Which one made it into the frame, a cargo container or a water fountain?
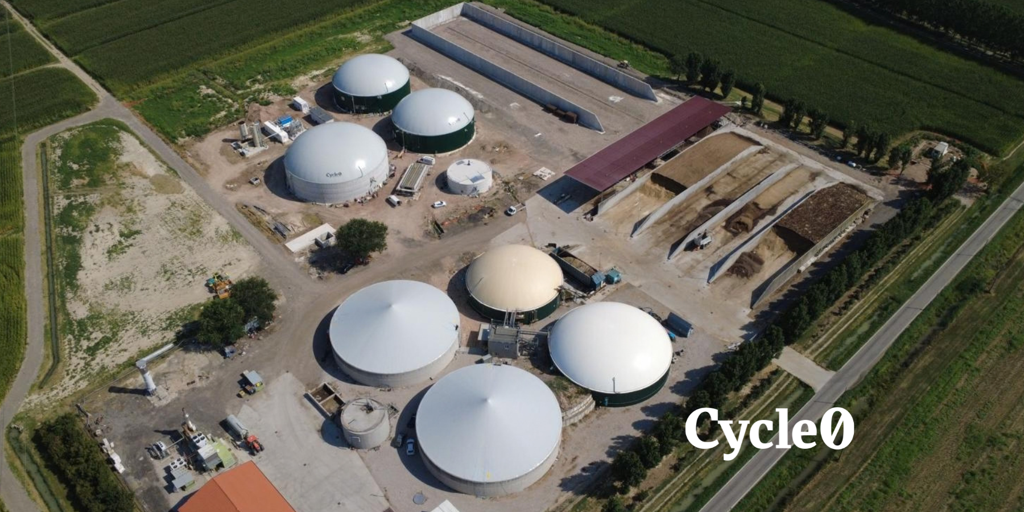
cargo container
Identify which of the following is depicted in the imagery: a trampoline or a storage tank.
storage tank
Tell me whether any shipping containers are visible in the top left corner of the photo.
Yes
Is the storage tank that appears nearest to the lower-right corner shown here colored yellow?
No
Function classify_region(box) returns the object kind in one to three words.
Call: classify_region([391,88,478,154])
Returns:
storage tank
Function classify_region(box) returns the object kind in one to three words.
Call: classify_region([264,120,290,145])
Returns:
shipping container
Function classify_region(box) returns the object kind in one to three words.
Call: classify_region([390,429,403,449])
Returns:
vehicle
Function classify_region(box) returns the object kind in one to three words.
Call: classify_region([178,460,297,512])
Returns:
building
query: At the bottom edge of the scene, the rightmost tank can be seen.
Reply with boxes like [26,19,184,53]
[415,363,563,498]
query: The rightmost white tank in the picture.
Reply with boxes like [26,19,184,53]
[548,302,673,407]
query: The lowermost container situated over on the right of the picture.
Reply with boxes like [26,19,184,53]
[667,314,694,339]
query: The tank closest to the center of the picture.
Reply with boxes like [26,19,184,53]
[466,245,564,324]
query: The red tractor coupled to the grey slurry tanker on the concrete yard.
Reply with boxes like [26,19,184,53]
[245,431,265,452]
